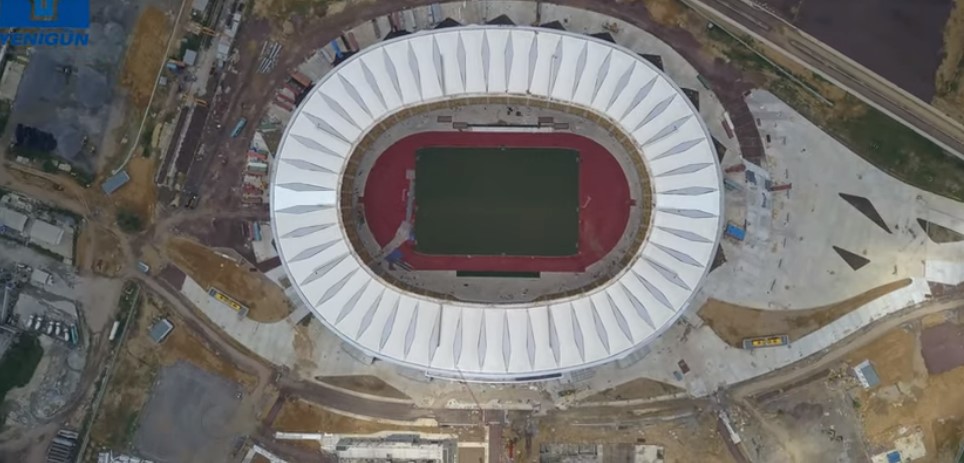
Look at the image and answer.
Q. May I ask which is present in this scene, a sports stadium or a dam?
sports stadium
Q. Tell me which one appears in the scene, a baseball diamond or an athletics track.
athletics track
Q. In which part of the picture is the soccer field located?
center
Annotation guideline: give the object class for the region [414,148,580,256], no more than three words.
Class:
soccer field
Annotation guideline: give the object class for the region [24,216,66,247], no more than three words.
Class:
house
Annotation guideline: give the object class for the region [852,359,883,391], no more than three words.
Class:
shed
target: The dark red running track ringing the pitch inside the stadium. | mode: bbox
[360,131,635,272]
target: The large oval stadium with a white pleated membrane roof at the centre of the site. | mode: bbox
[271,26,723,387]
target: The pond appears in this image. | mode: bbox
[0,335,43,420]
